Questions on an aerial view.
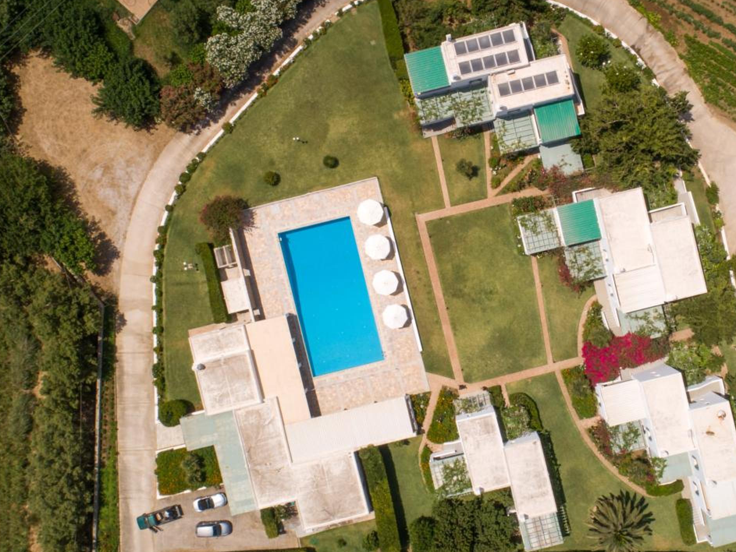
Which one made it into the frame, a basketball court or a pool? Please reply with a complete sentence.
There is a pool in the scene.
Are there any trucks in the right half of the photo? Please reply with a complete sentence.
No, there's no truck to be seen in the right half of the photo.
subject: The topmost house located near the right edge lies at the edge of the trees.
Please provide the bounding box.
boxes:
[551,179,707,336]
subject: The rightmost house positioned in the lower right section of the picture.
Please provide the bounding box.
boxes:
[593,358,736,547]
